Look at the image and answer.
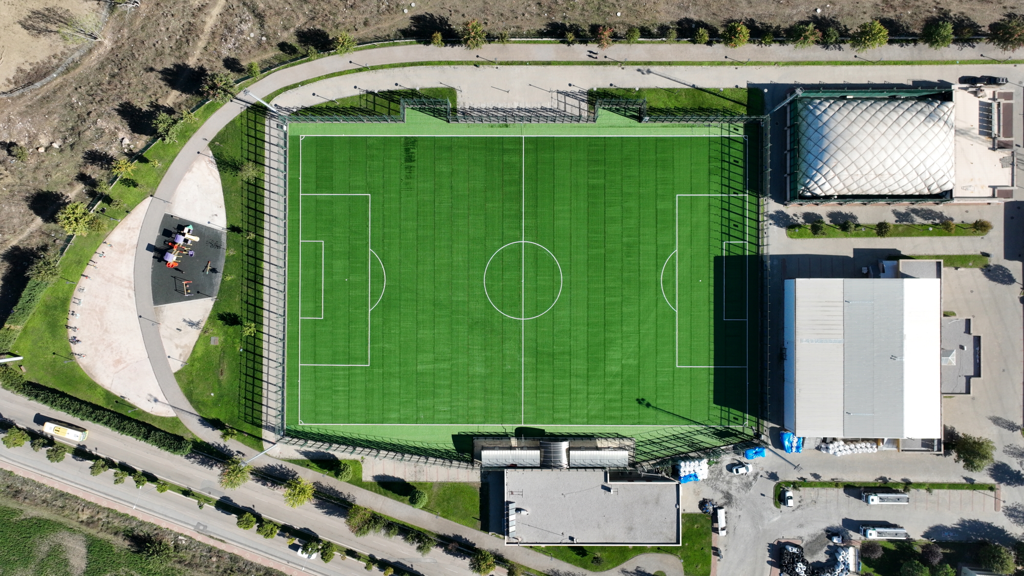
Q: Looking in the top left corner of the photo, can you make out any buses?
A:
No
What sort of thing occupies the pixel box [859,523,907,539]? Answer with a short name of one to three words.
vehicle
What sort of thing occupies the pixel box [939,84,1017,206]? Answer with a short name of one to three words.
building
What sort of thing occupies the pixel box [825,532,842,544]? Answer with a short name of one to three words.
vehicle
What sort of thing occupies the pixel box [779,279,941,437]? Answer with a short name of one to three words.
building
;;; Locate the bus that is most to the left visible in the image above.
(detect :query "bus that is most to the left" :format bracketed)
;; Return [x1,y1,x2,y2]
[43,418,96,442]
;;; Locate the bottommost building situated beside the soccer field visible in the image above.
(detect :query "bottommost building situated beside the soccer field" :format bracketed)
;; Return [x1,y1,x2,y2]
[504,467,682,546]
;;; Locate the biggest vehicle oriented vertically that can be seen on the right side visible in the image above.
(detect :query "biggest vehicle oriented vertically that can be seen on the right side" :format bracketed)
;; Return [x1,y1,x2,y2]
[715,507,728,535]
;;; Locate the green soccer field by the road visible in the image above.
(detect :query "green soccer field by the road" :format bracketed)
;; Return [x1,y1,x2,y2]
[286,121,759,463]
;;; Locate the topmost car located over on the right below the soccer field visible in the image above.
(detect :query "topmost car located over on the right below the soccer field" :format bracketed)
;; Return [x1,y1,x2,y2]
[731,462,752,477]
